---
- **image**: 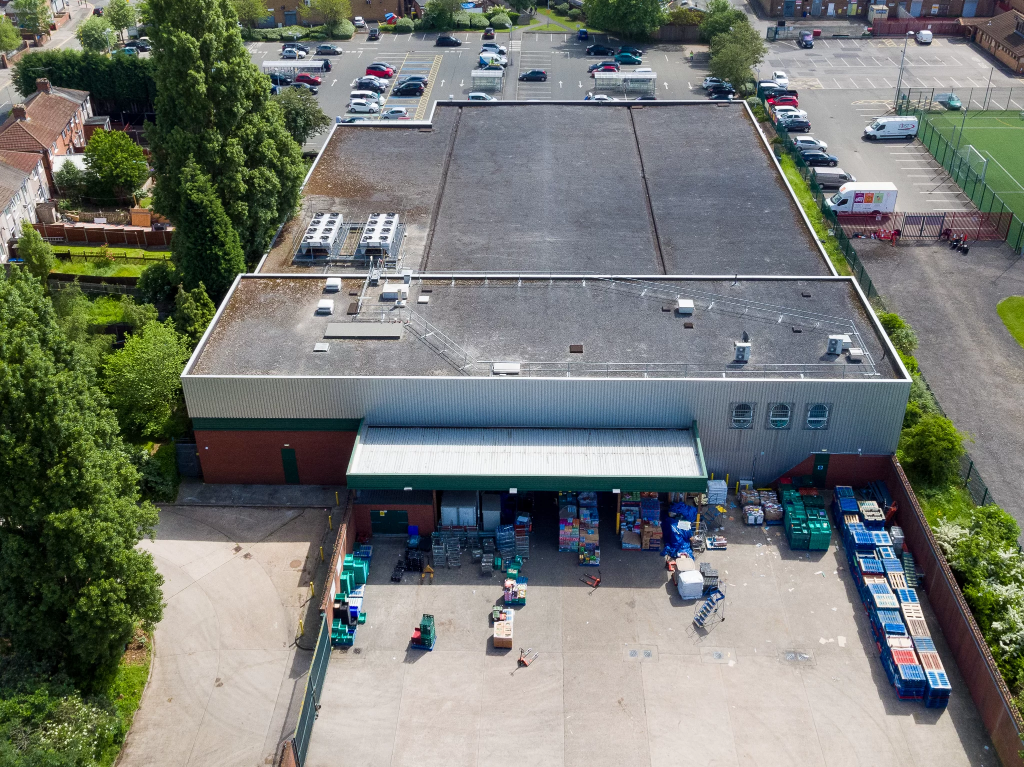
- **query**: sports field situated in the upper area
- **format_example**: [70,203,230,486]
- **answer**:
[921,110,1024,252]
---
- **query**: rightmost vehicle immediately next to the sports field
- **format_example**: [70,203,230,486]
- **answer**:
[941,93,964,110]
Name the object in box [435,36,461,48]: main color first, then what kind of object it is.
black vehicle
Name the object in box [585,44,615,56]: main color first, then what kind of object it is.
black vehicle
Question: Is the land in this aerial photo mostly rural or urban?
urban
